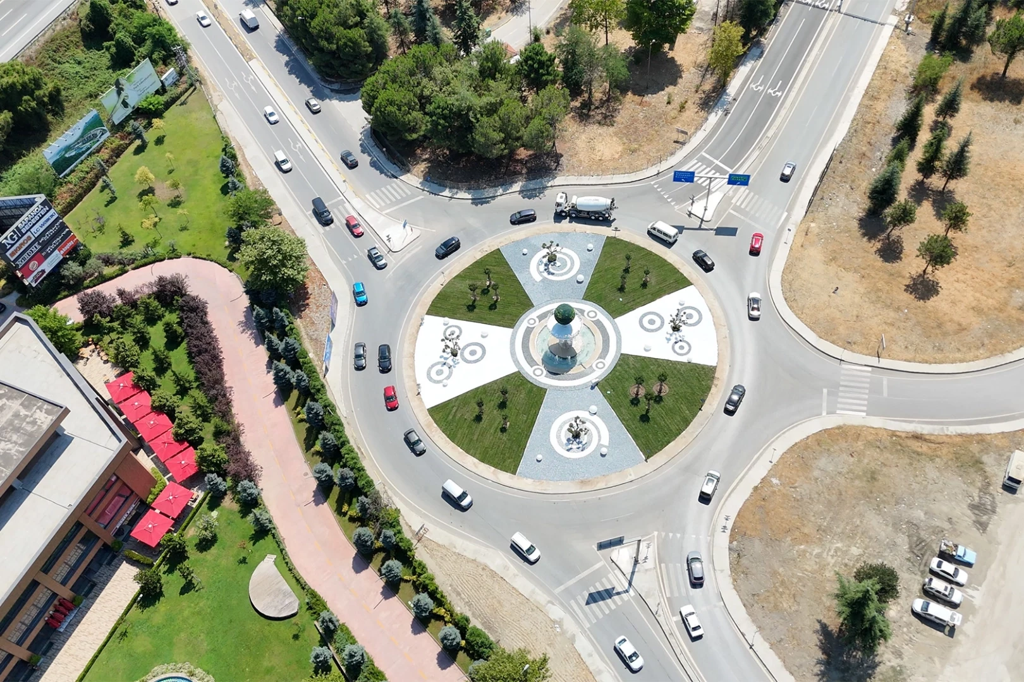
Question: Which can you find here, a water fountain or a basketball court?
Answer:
water fountain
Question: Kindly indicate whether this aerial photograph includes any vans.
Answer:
Yes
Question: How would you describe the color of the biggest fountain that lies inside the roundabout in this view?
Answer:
white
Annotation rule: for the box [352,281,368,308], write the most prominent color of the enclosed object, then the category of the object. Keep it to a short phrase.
blue car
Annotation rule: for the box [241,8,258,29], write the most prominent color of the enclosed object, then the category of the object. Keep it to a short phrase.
white vehicle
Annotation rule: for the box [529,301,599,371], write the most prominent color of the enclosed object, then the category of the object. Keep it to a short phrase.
white fountain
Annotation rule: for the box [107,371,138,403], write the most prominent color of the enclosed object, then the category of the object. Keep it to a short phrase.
red umbrella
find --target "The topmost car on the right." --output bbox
[778,161,796,183]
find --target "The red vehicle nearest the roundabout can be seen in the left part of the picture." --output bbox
[382,383,400,413]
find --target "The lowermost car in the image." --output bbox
[610,630,647,677]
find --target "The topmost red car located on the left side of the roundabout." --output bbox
[344,214,364,238]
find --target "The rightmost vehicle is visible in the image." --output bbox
[994,439,1024,497]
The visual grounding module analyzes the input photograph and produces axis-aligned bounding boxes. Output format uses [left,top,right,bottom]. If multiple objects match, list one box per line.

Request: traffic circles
[402,223,733,495]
